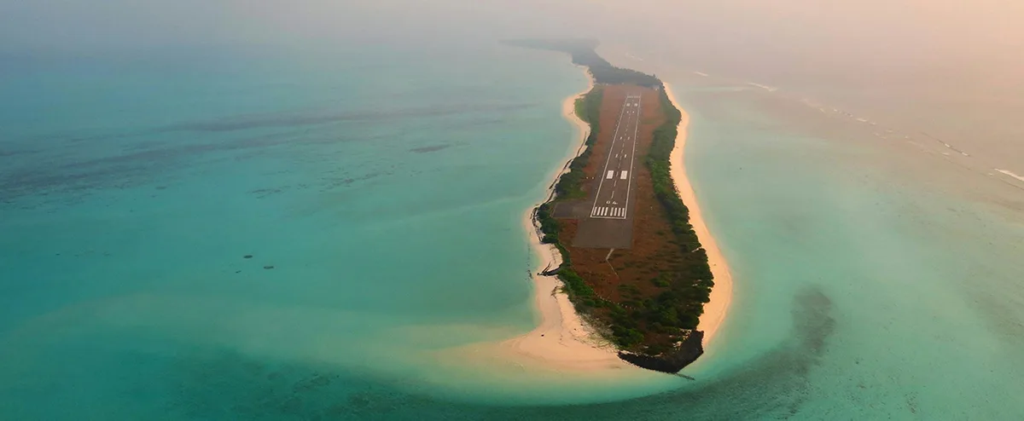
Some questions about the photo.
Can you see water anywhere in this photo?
Yes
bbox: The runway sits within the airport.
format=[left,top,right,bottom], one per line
[582,93,645,220]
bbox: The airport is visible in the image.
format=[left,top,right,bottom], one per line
[550,86,679,257]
